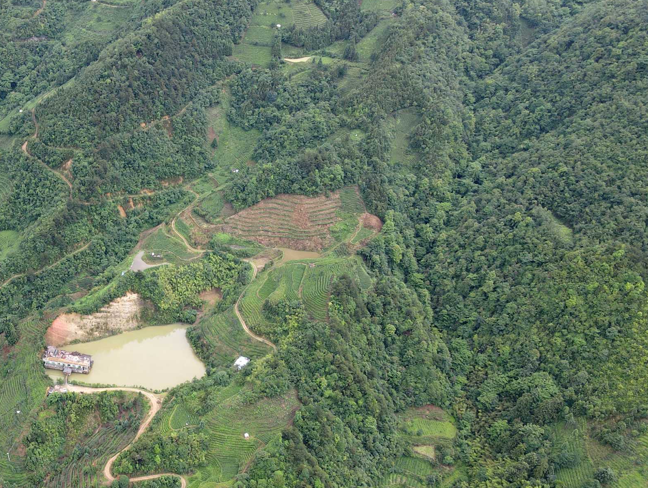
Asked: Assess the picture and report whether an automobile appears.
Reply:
No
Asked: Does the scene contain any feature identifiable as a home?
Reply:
Yes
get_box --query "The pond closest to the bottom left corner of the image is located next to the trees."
[46,323,207,390]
